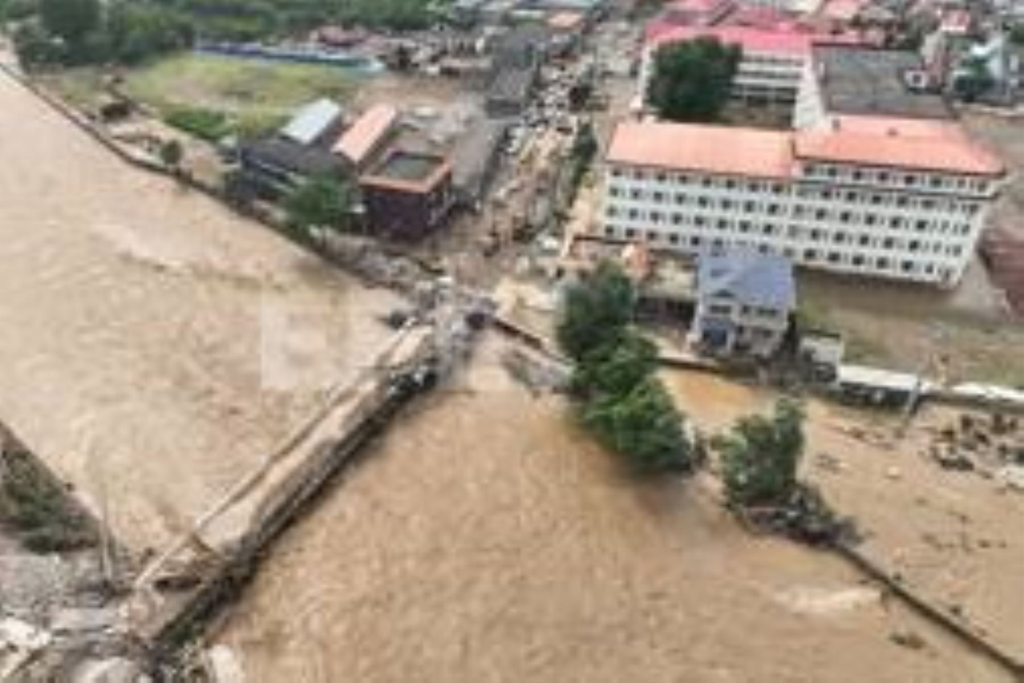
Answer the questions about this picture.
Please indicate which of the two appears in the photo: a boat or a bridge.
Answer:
bridge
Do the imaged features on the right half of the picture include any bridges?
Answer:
No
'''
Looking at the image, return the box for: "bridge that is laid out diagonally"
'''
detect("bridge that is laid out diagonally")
[99,315,468,661]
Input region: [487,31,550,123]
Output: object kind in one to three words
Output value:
building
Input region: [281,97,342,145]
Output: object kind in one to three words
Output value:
shed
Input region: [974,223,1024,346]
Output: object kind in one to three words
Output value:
building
